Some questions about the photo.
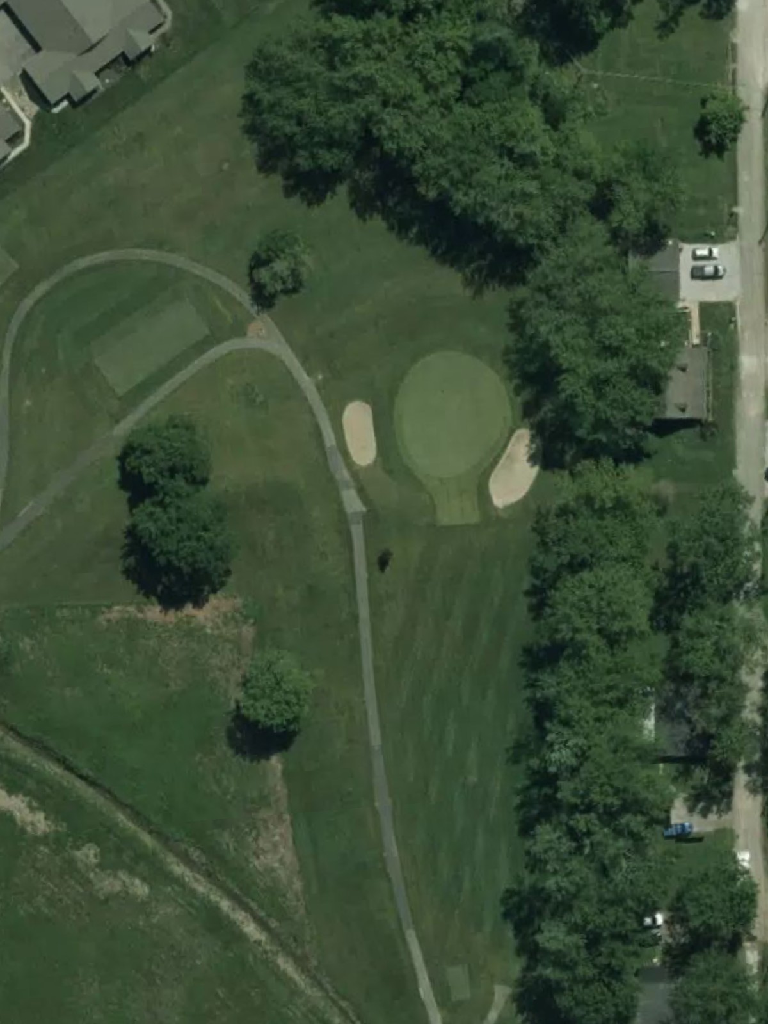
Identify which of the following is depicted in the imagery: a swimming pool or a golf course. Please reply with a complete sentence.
Looking from above, you can make out a golf course.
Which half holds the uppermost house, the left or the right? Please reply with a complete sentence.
The uppermost house is on the left side of the image.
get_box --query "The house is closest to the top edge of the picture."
[6,0,165,104]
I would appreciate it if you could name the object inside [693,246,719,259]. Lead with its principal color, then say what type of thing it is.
white vehicle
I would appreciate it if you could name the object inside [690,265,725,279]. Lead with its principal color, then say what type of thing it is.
gray vehicle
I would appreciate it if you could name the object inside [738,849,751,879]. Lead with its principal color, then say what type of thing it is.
white vehicle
